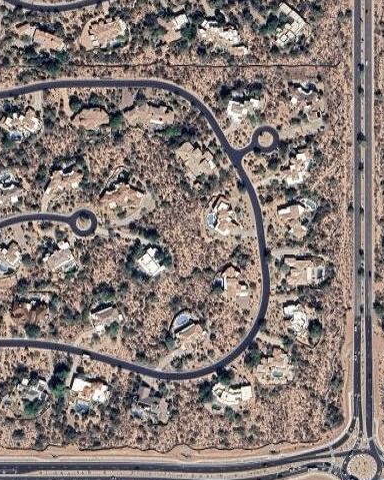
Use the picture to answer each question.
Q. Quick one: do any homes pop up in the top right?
Yes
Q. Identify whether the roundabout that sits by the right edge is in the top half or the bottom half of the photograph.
bottom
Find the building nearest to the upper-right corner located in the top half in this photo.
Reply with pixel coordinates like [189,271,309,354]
[275,0,310,47]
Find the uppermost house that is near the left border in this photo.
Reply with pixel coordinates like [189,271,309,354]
[16,22,67,49]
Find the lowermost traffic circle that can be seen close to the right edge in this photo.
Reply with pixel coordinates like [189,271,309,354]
[332,417,384,480]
